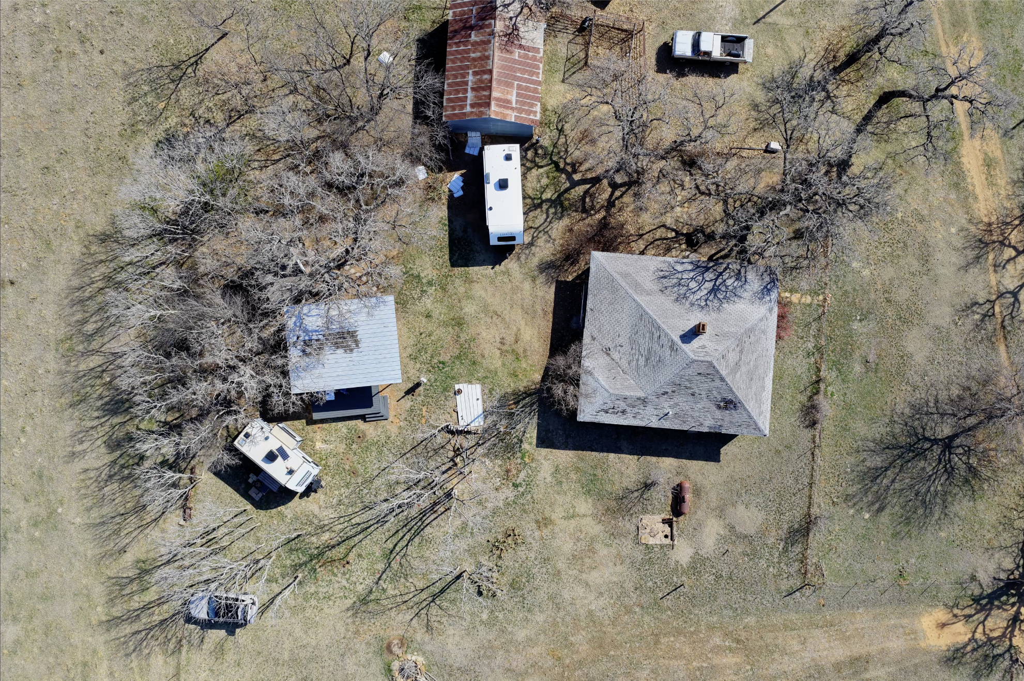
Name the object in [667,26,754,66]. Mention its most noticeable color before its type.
white truck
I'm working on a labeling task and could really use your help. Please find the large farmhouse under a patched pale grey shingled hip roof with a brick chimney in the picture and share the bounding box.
[576,250,779,438]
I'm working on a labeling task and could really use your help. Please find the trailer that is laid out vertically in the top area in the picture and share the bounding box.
[482,144,524,260]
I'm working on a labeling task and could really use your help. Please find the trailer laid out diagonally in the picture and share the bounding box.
[234,411,338,494]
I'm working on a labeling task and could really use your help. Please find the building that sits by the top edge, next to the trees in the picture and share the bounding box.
[443,0,546,139]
